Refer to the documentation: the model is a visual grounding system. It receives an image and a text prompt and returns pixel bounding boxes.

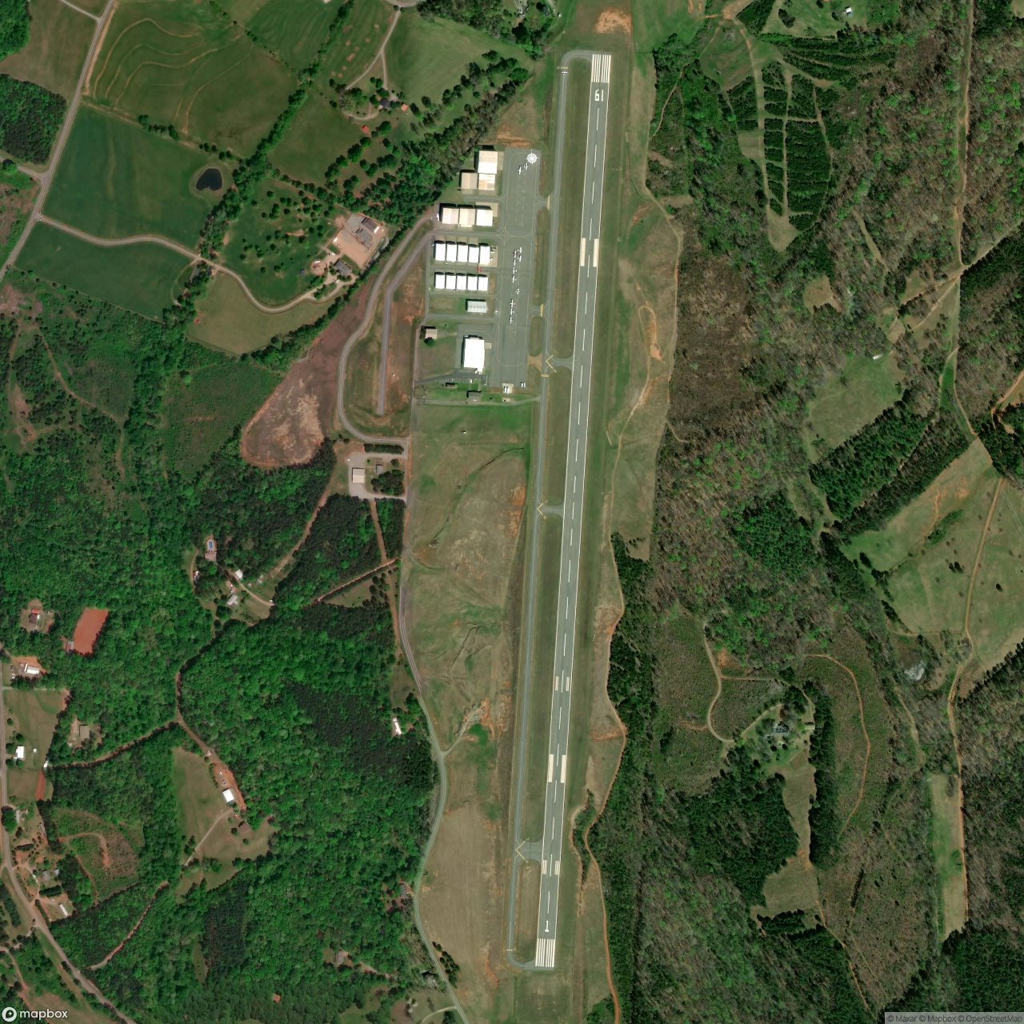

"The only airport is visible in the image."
[415,50,612,972]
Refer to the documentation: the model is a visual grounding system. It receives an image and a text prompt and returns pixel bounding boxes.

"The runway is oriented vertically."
[535,53,611,972]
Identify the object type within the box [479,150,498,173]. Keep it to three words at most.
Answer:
hangar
